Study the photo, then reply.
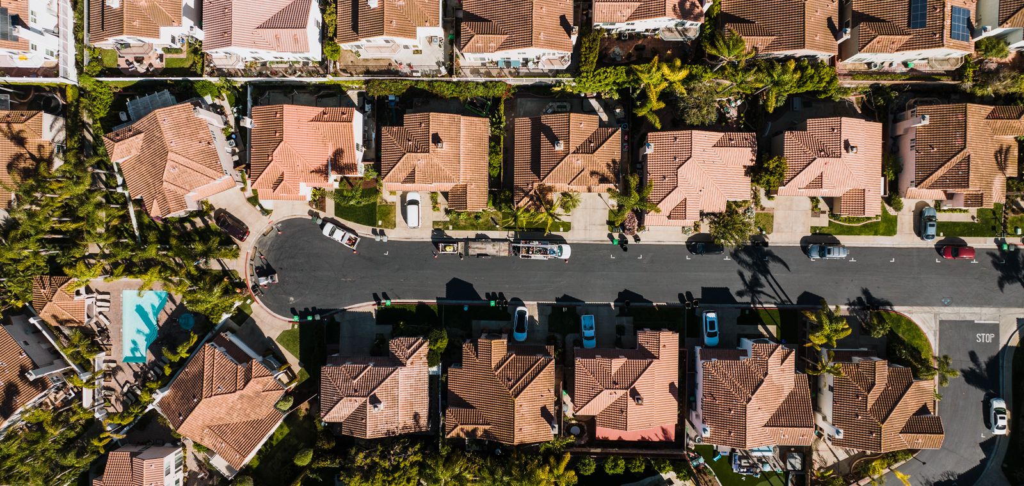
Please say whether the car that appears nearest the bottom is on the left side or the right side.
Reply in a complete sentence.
The car that appears nearest the bottom appears in the right half of the scene.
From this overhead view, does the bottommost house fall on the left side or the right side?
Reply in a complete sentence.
It is on the left.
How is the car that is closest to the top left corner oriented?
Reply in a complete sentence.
The car that is closest to the top left corner is oriented on a diagonal.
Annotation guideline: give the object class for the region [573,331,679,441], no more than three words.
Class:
house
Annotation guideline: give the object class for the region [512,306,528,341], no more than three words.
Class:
car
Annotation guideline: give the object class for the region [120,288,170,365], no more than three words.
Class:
swimming pool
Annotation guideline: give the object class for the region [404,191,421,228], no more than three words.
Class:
vehicle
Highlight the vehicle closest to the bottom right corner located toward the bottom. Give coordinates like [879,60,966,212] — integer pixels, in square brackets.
[989,397,1010,435]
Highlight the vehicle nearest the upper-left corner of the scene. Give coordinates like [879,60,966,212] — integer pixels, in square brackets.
[214,212,250,243]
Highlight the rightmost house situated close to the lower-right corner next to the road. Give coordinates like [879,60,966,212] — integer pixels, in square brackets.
[816,350,950,451]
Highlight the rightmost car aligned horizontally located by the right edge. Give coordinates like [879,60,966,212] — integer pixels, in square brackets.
[941,245,978,261]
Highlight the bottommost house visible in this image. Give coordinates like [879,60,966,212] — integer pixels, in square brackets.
[93,443,183,486]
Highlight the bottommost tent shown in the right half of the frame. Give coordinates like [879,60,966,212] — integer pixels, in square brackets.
[781,448,803,471]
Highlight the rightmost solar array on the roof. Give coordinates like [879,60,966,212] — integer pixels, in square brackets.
[953,6,971,41]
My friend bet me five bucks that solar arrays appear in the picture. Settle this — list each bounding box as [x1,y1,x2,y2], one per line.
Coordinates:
[0,8,7,40]
[912,0,927,28]
[953,6,971,41]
